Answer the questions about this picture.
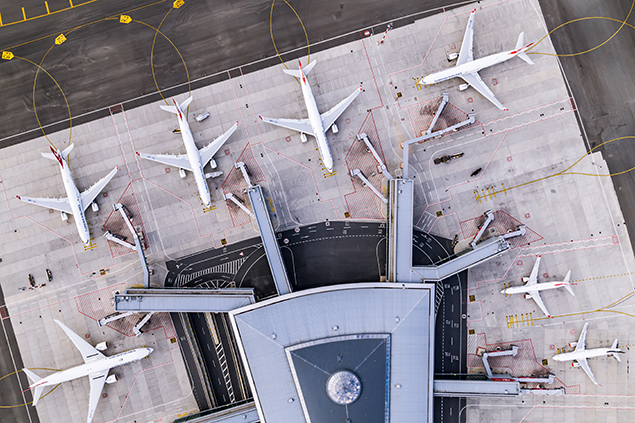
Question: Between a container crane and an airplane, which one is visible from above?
airplane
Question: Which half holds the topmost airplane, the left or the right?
right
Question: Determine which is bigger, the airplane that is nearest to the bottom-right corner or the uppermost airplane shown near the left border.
the uppermost airplane shown near the left border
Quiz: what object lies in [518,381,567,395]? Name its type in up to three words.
jet bridge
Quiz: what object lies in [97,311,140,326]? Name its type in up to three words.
jet bridge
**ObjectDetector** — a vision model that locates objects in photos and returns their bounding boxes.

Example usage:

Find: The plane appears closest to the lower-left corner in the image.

[16,320,154,423]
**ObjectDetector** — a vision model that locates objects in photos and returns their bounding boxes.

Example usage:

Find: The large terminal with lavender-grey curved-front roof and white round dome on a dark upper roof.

[229,283,435,423]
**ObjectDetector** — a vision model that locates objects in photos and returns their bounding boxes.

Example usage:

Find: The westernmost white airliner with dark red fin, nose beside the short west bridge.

[12,141,118,244]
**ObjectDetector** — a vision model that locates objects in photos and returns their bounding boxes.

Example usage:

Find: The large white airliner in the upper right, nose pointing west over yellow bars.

[420,7,537,113]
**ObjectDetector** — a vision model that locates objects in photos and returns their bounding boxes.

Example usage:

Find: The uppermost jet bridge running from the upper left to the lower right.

[357,133,386,171]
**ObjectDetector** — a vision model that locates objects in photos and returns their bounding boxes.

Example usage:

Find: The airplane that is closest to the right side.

[552,323,628,389]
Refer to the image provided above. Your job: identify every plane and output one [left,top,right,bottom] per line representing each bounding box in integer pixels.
[500,256,577,319]
[259,58,363,171]
[12,141,118,244]
[133,95,238,208]
[420,7,537,113]
[552,323,628,389]
[16,320,154,423]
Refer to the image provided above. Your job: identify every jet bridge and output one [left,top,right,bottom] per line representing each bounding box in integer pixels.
[479,344,518,357]
[357,133,386,171]
[104,229,146,251]
[425,93,450,134]
[518,381,567,395]
[468,210,494,246]
[439,113,475,136]
[224,192,257,220]
[235,161,255,190]
[495,226,525,239]
[113,202,144,242]
[350,168,388,205]
[97,311,140,326]
[133,311,159,336]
